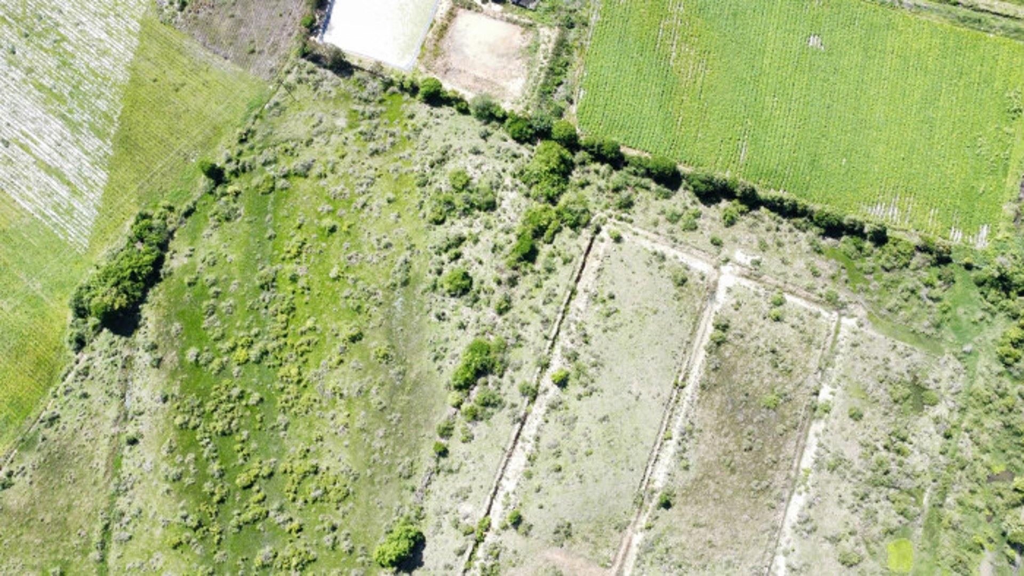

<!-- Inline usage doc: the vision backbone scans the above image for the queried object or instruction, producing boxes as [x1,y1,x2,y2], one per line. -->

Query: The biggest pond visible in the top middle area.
[424,9,536,109]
